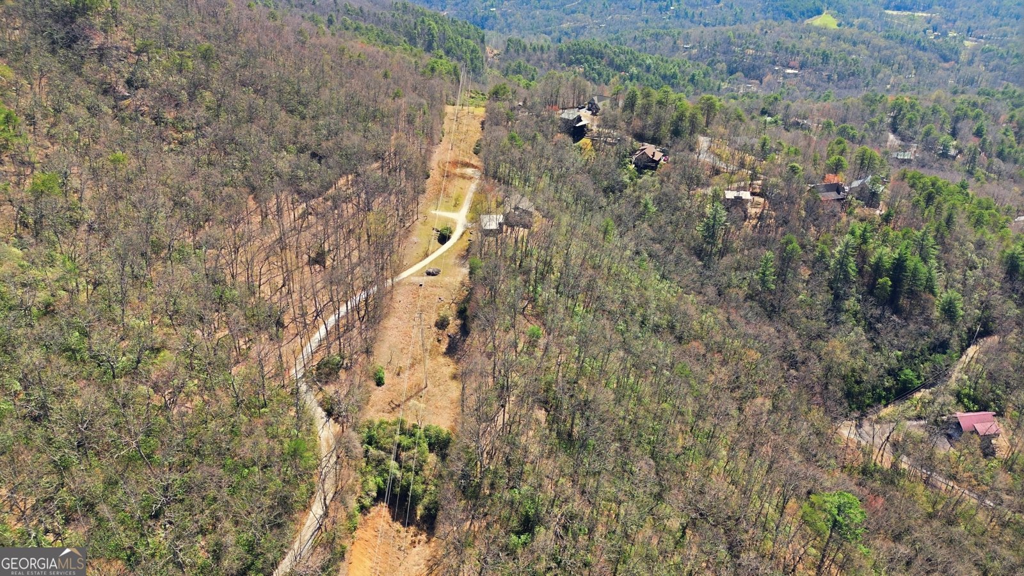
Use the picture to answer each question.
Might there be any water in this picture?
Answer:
No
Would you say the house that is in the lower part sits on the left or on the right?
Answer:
right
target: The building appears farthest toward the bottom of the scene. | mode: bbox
[944,415,1012,447]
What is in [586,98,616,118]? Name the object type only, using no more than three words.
house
